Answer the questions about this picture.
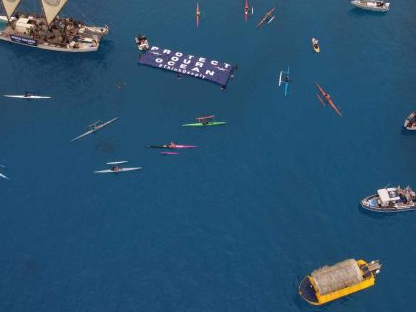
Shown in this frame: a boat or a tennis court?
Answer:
boat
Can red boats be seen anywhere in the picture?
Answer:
Yes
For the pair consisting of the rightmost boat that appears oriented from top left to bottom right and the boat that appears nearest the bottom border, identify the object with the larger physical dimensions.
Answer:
the boat that appears nearest the bottom border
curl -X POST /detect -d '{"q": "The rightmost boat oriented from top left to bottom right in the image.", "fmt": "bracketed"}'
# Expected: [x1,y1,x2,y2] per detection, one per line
[315,81,342,116]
